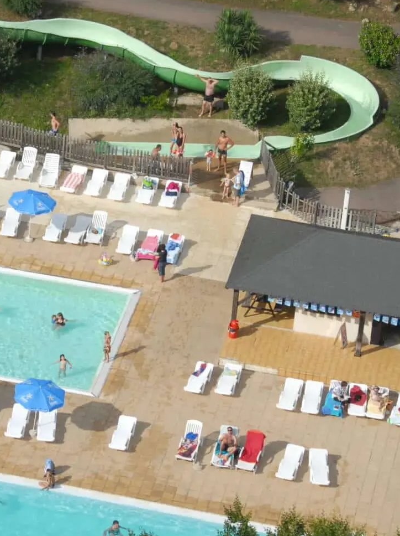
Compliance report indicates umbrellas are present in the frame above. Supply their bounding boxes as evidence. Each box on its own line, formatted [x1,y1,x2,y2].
[9,193,53,243]
[14,383,64,438]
